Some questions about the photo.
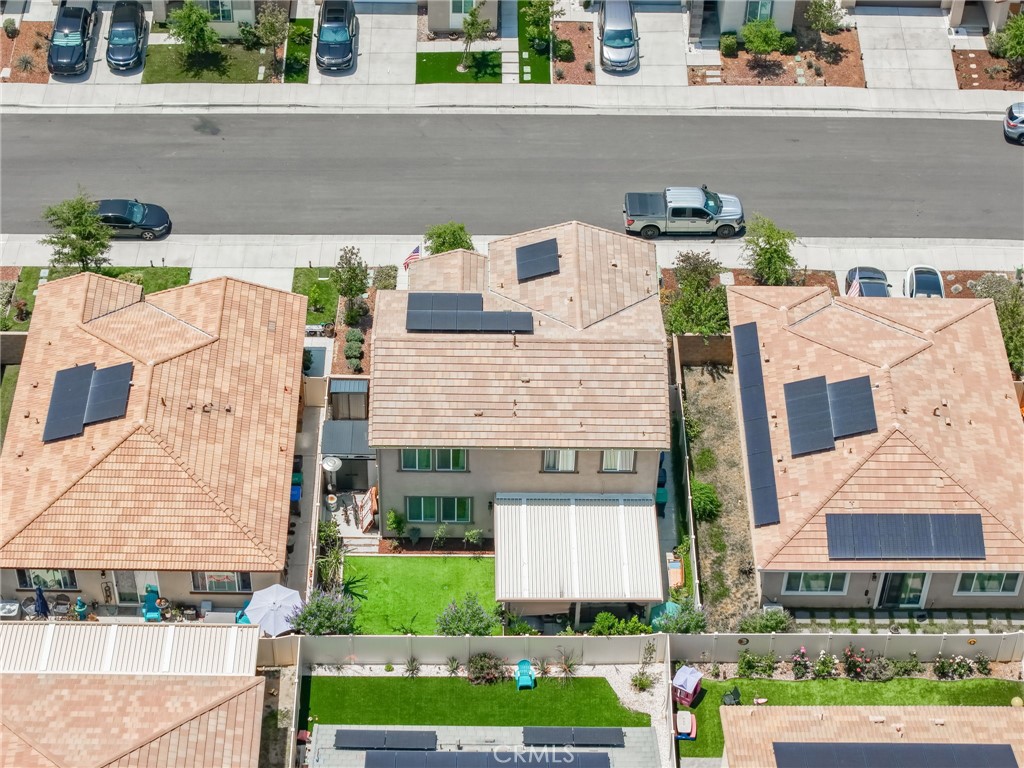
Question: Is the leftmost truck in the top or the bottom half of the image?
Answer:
top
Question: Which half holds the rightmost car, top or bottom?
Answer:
top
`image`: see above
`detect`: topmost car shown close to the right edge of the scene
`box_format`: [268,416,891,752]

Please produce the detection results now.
[999,100,1024,146]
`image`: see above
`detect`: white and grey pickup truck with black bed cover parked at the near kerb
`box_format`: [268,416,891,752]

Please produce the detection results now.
[623,186,745,239]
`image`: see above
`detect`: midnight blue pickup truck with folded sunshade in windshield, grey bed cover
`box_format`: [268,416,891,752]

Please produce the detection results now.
[45,0,101,76]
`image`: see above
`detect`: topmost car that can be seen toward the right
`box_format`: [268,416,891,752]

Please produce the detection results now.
[595,1,641,74]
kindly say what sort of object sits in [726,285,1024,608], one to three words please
house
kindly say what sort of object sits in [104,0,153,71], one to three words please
car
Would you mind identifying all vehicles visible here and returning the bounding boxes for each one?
[45,0,101,76]
[999,100,1024,146]
[904,265,957,297]
[623,186,745,239]
[314,1,360,73]
[72,197,171,241]
[848,266,899,297]
[104,0,153,71]
[595,1,641,74]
